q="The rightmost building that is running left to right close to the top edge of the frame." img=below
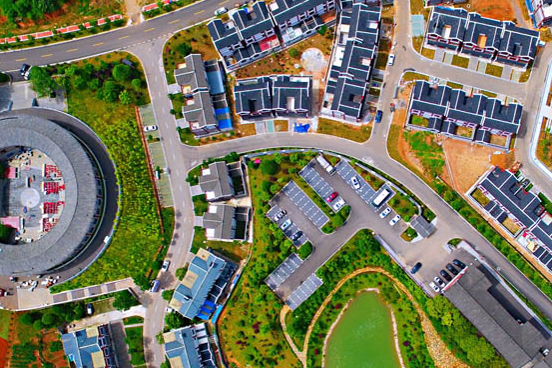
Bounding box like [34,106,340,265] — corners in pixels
[422,3,540,72]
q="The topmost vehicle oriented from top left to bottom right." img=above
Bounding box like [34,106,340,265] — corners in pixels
[314,153,331,172]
